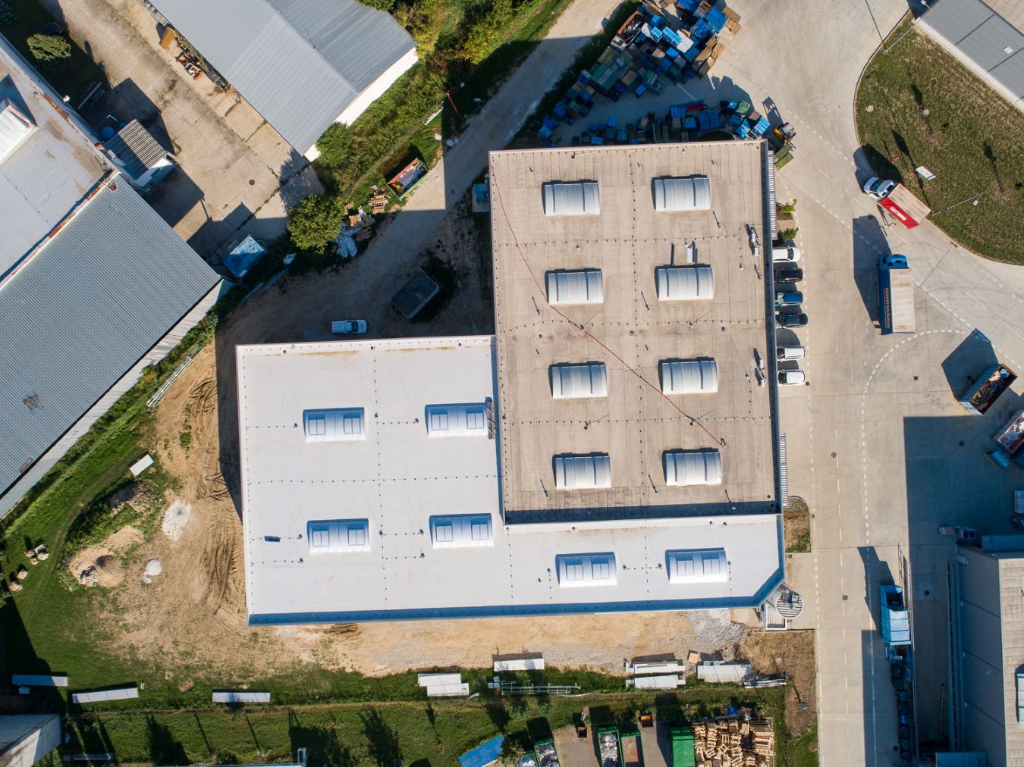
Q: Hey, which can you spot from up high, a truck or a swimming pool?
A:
truck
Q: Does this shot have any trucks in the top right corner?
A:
Yes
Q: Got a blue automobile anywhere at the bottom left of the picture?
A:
No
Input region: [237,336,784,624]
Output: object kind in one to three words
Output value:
building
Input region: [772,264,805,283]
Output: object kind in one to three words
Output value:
car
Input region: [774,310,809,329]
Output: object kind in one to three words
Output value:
car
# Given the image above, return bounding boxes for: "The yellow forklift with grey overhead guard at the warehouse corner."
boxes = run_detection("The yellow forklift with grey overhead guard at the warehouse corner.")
[773,116,797,146]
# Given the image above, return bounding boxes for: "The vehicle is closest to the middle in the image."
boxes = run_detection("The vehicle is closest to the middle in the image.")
[328,317,367,335]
